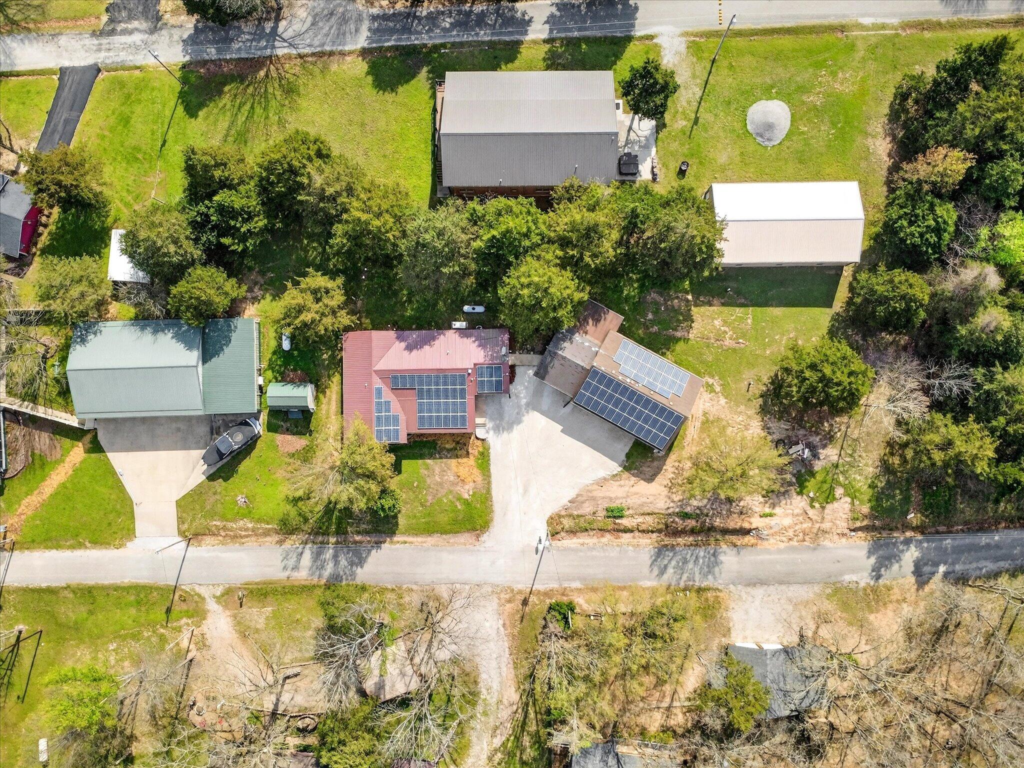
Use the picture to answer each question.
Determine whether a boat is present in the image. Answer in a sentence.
Yes, there's a boat here.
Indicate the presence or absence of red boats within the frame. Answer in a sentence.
No, the scene contains no red boat.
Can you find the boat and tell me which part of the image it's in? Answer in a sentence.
The boat appears toward the left of the photo.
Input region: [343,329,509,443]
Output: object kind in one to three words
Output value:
house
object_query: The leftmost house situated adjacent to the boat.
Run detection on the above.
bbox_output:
[66,318,265,418]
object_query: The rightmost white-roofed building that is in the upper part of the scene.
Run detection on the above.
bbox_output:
[703,181,865,269]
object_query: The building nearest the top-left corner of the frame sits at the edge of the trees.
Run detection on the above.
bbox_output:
[0,173,40,257]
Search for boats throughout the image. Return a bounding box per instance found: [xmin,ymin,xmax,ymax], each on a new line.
[202,418,265,462]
